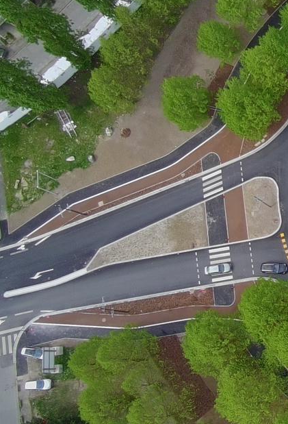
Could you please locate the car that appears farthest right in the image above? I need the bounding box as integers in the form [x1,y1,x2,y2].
[259,261,288,274]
